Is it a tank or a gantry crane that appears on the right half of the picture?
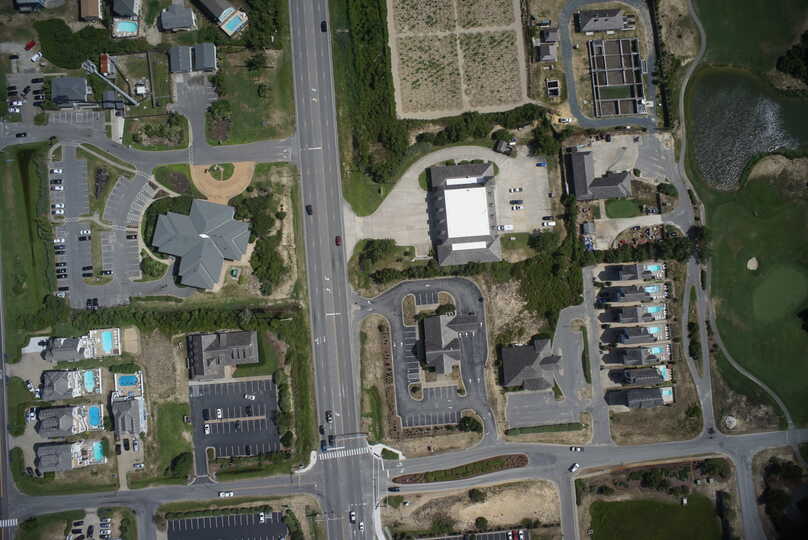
tank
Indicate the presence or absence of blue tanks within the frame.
No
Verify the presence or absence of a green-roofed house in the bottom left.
No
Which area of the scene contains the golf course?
right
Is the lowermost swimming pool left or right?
left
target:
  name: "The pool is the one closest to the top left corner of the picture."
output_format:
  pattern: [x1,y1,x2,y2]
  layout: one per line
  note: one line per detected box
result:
[113,18,139,38]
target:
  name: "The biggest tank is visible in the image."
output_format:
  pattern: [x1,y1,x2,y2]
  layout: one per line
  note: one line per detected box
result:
[587,38,649,119]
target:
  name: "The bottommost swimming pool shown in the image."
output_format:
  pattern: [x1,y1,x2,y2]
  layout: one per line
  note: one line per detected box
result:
[81,441,107,467]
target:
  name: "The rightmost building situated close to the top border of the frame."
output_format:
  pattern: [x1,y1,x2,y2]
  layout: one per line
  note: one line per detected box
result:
[578,9,637,35]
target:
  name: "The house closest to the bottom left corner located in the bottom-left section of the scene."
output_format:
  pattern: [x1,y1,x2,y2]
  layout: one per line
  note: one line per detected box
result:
[36,437,88,471]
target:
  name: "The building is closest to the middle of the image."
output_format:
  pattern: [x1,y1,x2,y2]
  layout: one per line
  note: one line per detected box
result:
[432,163,502,265]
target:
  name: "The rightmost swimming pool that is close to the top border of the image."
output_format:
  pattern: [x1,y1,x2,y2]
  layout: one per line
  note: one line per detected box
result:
[224,9,248,36]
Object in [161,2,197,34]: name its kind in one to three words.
house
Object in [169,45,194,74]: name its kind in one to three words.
building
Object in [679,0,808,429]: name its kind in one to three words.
golf course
